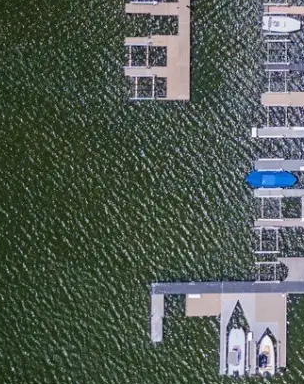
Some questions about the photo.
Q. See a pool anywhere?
No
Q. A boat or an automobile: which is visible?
boat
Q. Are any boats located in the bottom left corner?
No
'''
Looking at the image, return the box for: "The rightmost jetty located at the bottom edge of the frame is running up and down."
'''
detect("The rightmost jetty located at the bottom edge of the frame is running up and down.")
[255,293,287,368]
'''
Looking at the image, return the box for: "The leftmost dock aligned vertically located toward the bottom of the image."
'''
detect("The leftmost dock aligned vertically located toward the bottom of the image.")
[150,293,165,342]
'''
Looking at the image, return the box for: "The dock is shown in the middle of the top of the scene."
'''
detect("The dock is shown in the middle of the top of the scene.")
[124,0,191,100]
